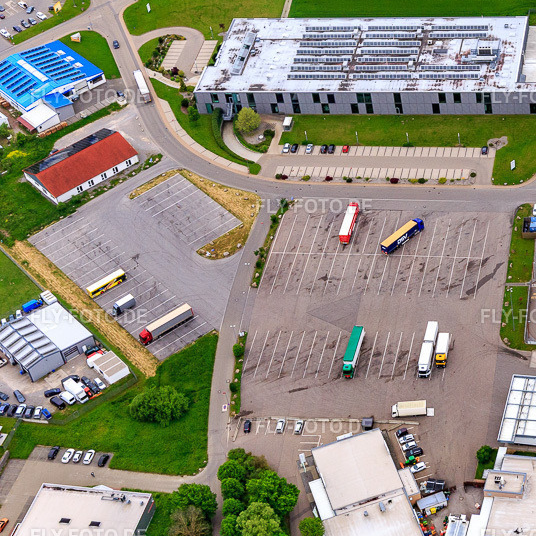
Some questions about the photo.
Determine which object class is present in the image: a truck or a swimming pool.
truck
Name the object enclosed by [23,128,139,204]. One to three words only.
building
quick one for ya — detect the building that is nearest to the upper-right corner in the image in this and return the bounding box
[194,15,536,122]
